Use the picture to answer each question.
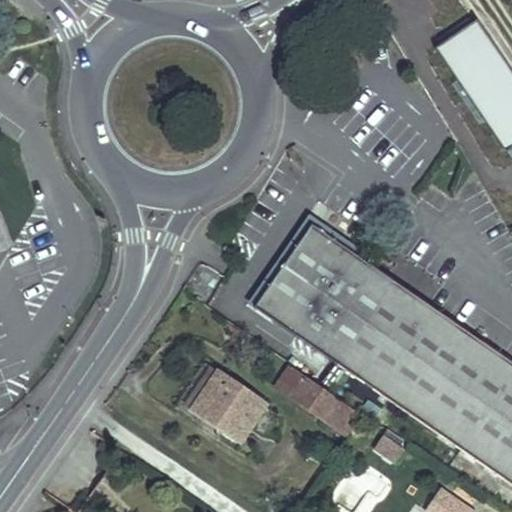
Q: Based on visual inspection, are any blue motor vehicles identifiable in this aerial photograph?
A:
Yes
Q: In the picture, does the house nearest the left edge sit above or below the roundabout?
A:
below it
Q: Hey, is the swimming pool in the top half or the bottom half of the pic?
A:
bottom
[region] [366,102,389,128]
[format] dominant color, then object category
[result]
white vehicle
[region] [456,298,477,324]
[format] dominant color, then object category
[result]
white vehicle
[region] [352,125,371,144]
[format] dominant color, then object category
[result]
white car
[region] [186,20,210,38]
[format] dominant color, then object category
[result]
white car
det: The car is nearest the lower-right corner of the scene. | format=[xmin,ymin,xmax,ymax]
[476,322,492,340]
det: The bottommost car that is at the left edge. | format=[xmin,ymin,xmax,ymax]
[23,284,45,299]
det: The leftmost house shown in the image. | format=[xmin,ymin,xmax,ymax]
[179,366,270,448]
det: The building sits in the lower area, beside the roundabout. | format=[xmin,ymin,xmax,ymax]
[250,215,512,485]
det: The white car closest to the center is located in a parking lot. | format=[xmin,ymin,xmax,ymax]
[266,186,286,202]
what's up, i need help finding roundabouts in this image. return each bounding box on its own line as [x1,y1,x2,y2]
[70,2,276,208]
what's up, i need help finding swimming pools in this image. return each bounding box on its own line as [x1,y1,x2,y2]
[332,466,391,512]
